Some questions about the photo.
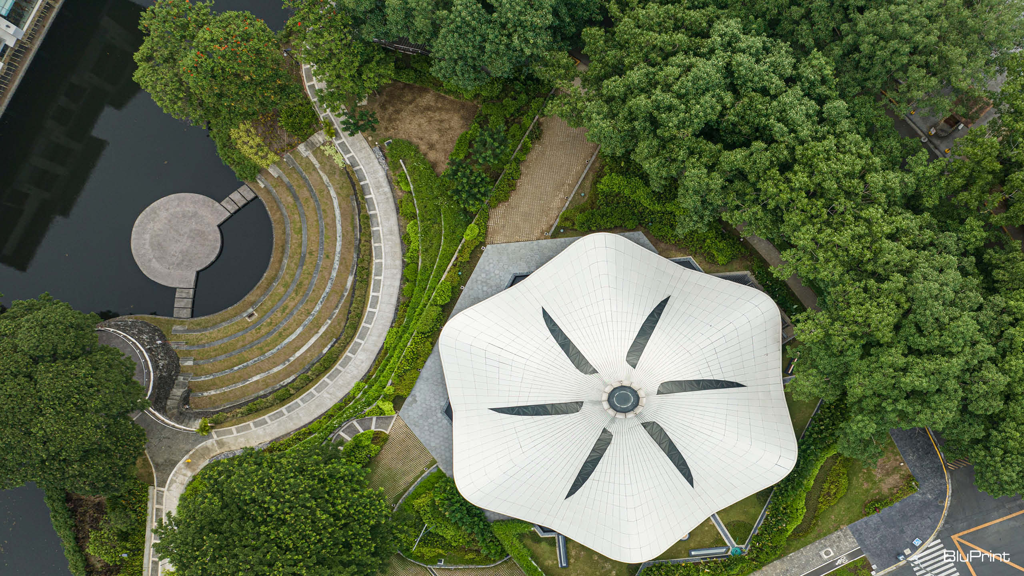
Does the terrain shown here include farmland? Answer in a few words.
No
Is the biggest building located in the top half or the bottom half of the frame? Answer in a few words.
bottom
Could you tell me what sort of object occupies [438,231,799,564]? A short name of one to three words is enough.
building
